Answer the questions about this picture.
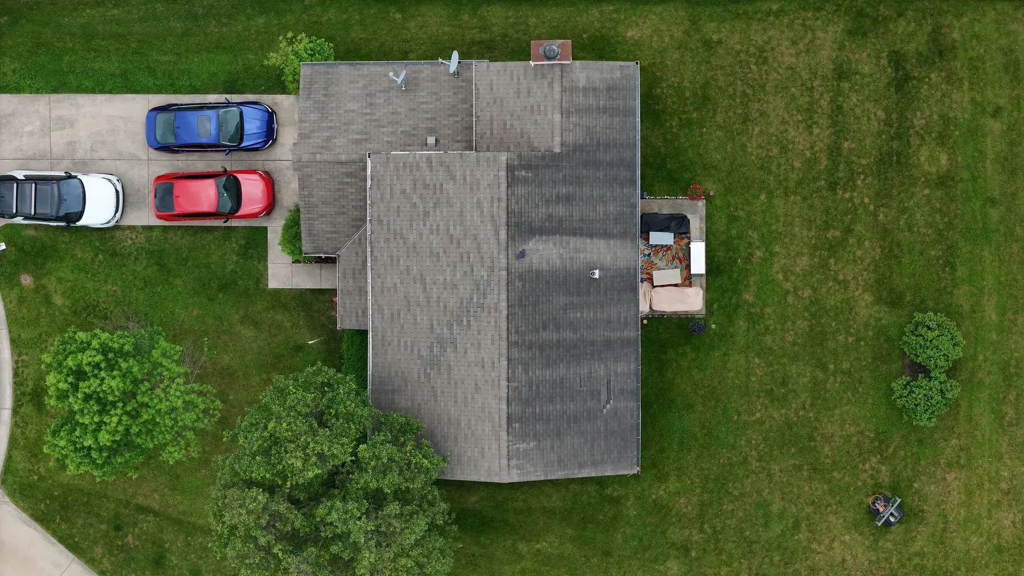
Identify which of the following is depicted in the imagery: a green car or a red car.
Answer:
red car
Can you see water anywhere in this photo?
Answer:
No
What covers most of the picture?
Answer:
grass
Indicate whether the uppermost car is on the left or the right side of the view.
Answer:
left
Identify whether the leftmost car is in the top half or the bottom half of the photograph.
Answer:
top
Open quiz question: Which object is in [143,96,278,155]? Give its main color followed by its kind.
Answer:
blue car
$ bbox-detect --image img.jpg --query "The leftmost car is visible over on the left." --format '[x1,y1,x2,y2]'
[0,166,127,230]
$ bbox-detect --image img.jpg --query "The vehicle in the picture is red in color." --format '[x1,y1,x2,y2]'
[149,165,276,223]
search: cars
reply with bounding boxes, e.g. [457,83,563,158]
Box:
[0,166,127,230]
[149,165,276,223]
[143,96,278,155]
